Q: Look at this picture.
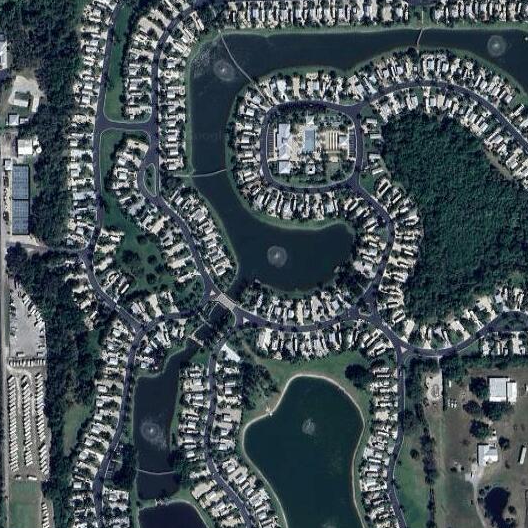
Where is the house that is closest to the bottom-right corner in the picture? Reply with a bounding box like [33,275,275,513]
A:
[478,443,498,465]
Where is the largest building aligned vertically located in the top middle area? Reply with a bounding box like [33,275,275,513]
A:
[276,123,292,158]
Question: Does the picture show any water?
Yes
